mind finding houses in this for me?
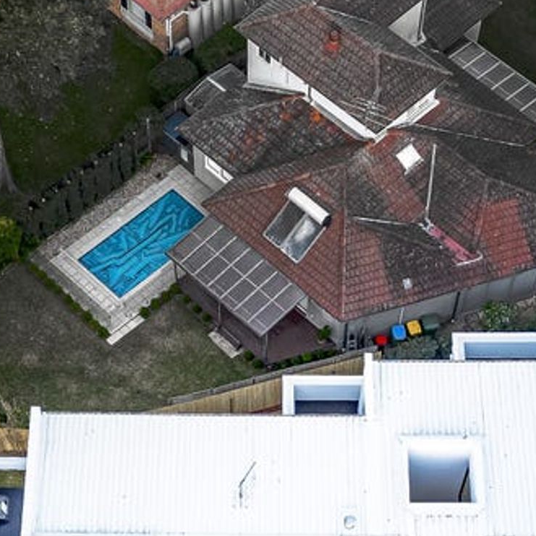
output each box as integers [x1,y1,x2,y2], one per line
[177,0,536,342]
[96,0,220,59]
[20,332,536,536]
